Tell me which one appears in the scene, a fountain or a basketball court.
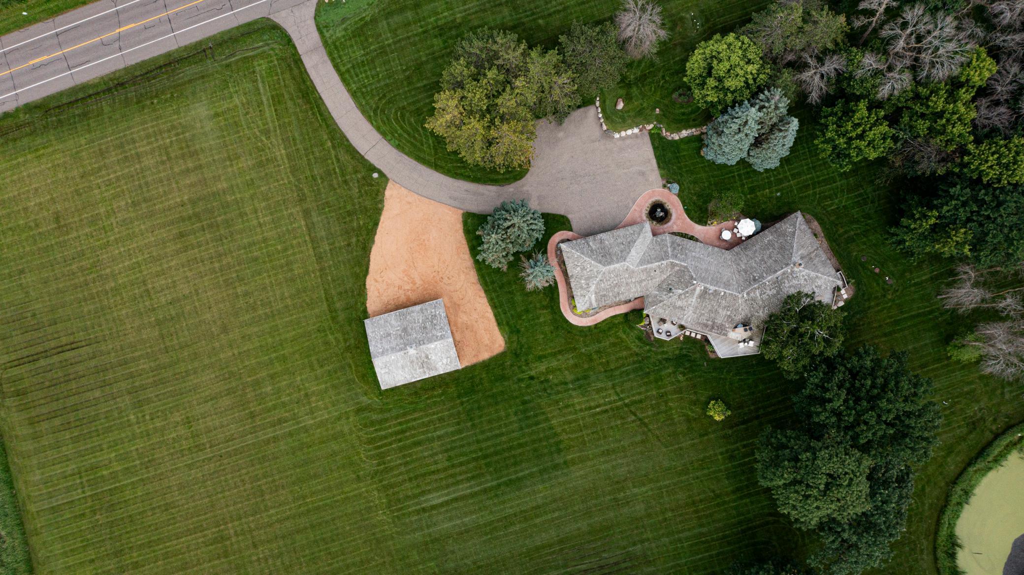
fountain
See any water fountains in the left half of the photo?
No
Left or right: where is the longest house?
right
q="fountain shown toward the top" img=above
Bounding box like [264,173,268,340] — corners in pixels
[643,197,674,227]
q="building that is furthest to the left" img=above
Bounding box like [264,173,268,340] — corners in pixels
[364,299,461,389]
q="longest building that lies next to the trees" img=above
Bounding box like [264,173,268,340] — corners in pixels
[560,211,848,358]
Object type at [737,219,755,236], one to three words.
umbrella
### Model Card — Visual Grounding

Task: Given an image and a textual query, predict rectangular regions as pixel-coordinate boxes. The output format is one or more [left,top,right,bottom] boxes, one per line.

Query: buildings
[364,299,461,389]
[560,211,848,358]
